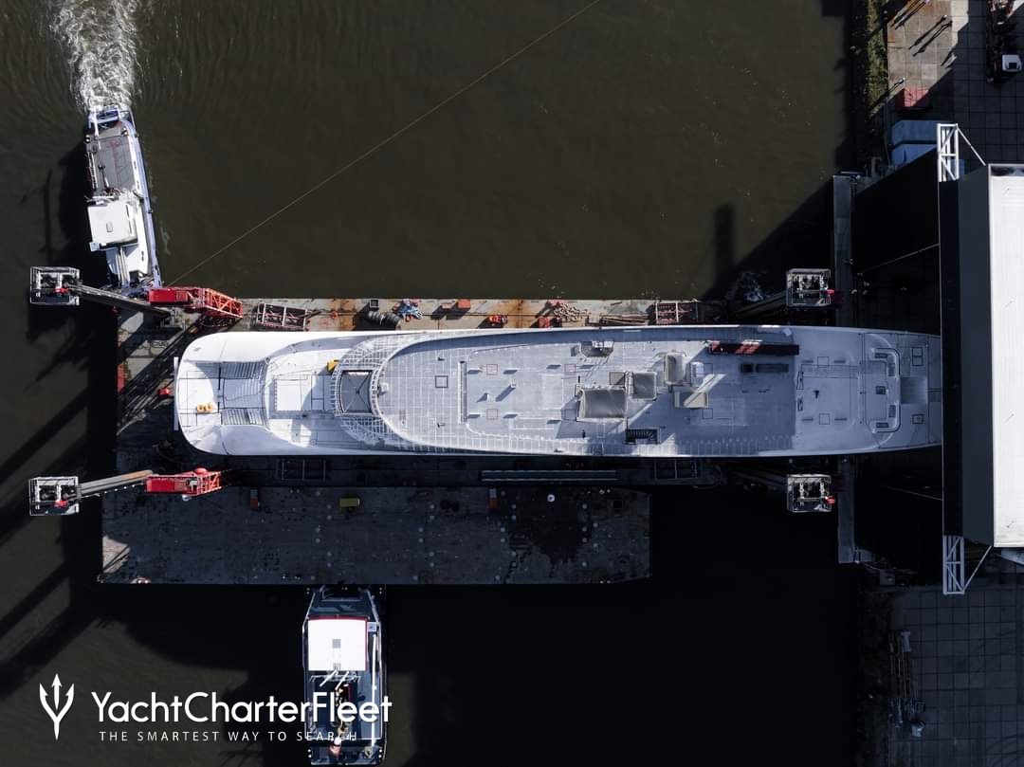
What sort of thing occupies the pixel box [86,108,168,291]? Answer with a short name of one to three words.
boat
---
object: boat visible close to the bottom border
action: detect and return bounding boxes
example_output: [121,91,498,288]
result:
[303,585,386,766]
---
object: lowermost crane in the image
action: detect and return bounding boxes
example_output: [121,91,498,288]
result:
[143,466,220,500]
